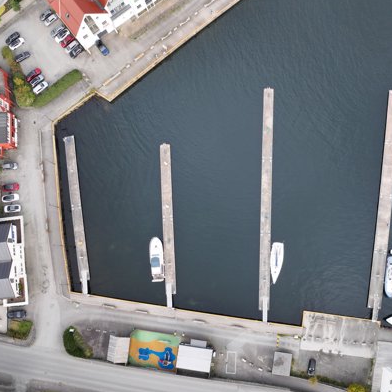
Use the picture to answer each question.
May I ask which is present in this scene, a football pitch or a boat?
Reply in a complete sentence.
Visible in the photo is a boat.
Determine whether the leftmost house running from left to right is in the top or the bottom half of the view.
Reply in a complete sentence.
The top half of the photo is where the leftmost house running from left to right is.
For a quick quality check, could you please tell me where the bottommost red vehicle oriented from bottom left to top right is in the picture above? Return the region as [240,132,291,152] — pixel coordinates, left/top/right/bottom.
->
[26,67,42,81]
